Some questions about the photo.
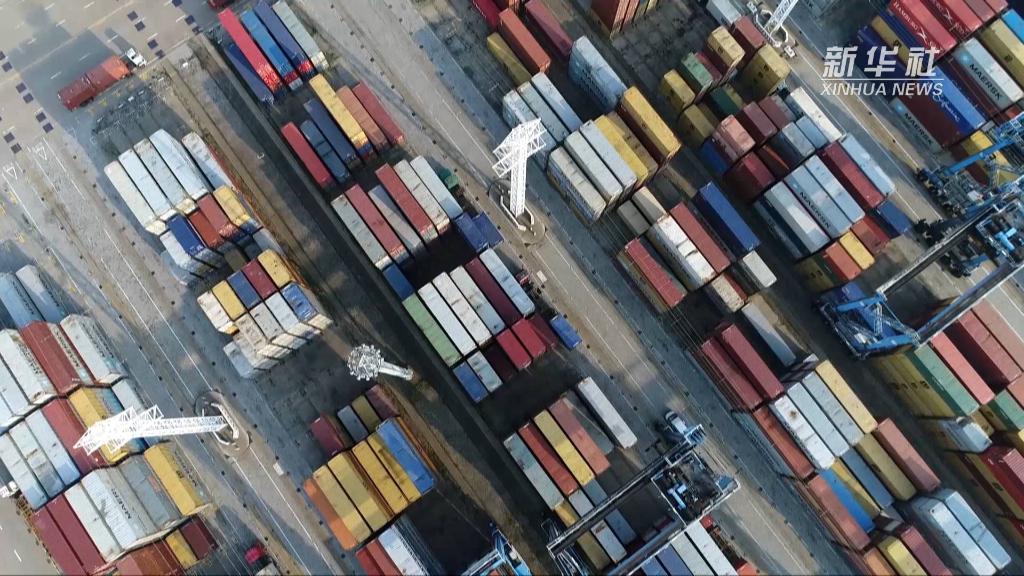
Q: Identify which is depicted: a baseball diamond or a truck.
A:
truck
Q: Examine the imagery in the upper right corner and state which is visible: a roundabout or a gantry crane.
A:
gantry crane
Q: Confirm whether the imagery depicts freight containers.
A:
Yes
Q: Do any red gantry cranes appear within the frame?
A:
No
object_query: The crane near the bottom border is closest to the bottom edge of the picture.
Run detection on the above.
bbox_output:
[447,514,534,576]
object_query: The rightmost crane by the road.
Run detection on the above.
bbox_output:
[924,93,1024,221]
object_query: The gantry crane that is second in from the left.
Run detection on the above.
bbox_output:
[537,422,752,576]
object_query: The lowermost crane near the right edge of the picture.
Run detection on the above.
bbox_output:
[819,179,1024,359]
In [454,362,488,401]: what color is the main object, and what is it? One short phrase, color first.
blue shipping container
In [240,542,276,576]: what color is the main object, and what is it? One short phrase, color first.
red truck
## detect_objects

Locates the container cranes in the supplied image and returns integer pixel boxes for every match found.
[819,179,1024,359]
[537,422,752,576]
[924,93,1024,221]
[447,514,534,576]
